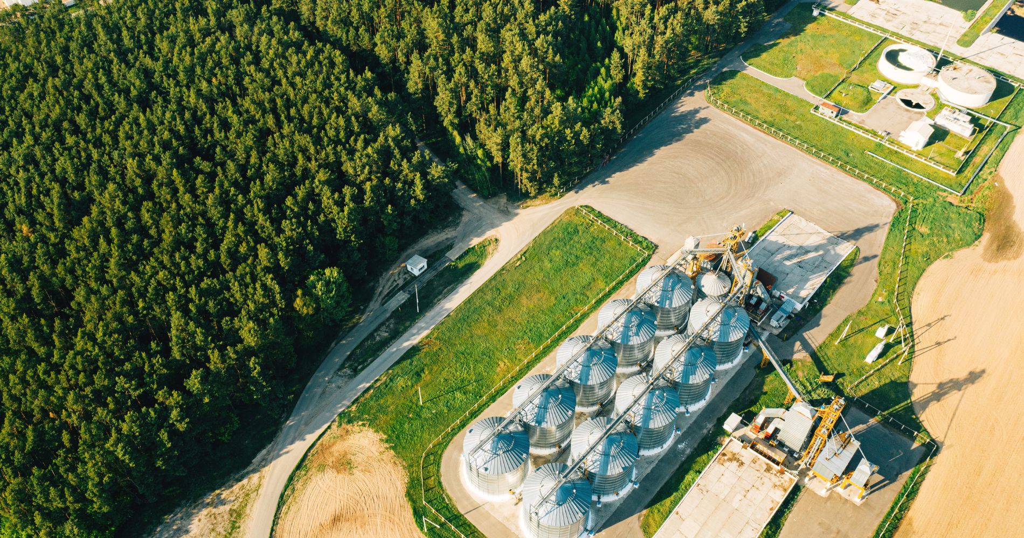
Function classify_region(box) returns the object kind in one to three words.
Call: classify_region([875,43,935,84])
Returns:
storage tank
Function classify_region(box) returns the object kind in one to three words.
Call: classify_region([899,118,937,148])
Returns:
building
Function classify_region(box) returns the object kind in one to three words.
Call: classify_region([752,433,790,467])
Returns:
shed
